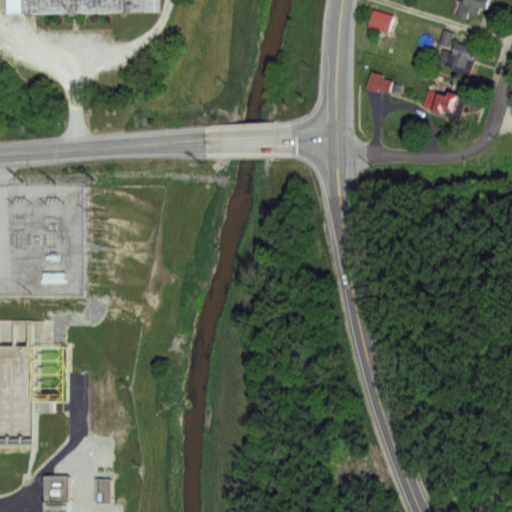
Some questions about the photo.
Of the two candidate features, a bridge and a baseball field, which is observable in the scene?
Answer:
bridge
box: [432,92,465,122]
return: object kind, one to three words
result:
house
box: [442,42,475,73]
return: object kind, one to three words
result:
house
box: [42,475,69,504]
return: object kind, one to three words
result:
building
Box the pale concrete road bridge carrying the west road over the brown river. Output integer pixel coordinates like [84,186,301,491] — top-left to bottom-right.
[205,122,293,159]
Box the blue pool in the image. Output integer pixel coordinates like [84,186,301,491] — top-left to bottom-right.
[418,32,438,49]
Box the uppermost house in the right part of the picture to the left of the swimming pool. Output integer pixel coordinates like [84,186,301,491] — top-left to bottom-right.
[368,8,399,38]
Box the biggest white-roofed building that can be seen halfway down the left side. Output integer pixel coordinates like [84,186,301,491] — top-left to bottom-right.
[40,271,66,286]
